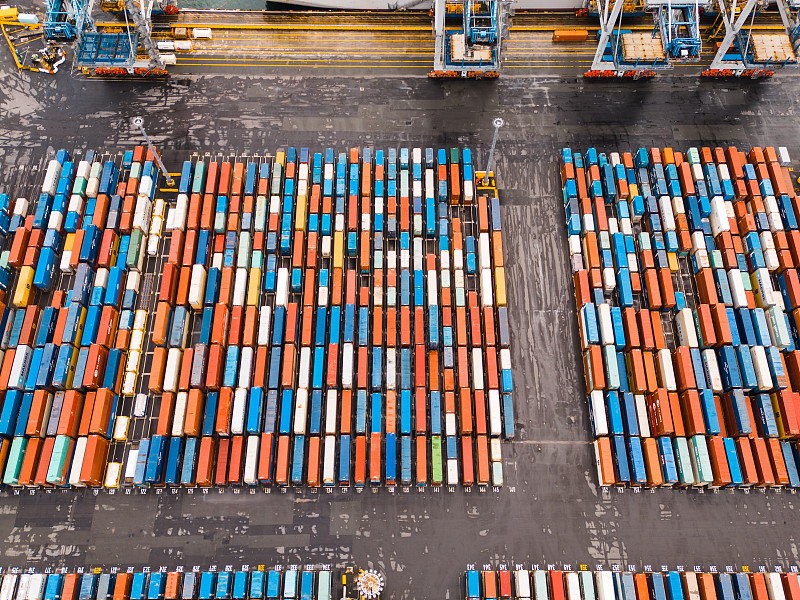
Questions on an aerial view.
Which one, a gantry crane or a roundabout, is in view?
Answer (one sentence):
Visible in the photo is a gantry crane.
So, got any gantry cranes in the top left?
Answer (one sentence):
Yes, a gantry crane is visible in the top left.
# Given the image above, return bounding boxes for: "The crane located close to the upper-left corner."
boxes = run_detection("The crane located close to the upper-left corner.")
[39,0,180,79]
